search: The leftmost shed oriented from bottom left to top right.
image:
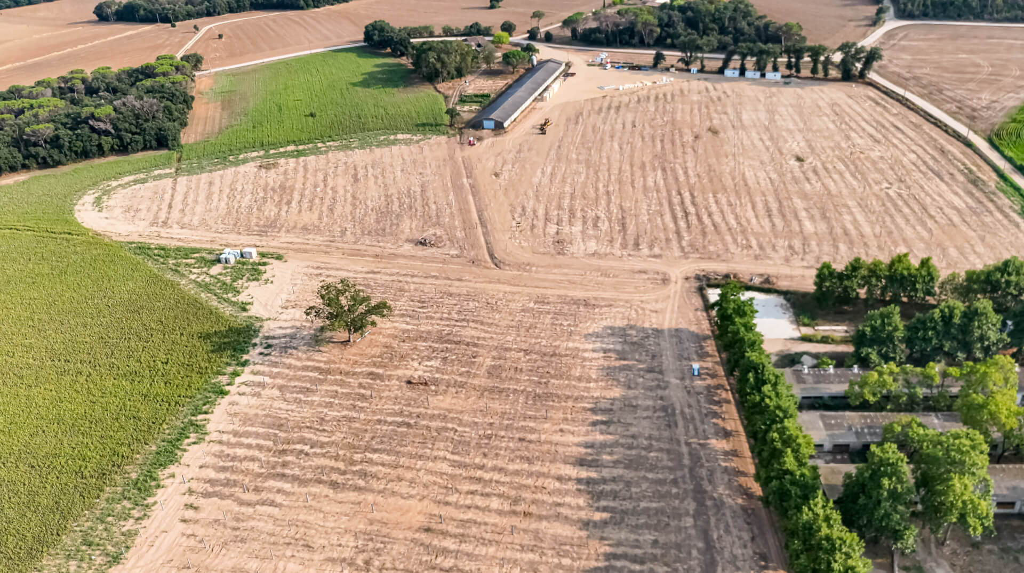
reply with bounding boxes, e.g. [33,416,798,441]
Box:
[463,60,558,131]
